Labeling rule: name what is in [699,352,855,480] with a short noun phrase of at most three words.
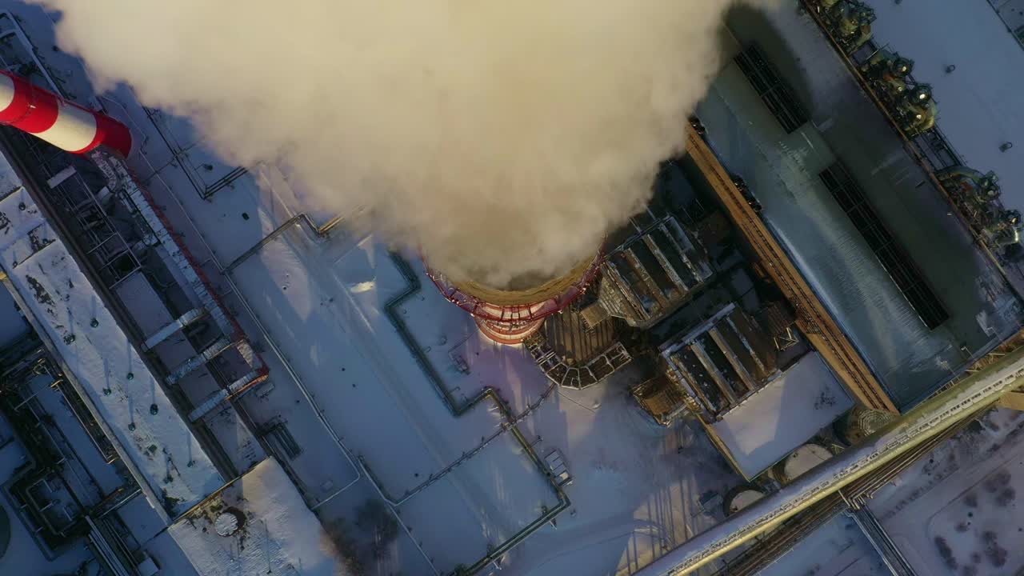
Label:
building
